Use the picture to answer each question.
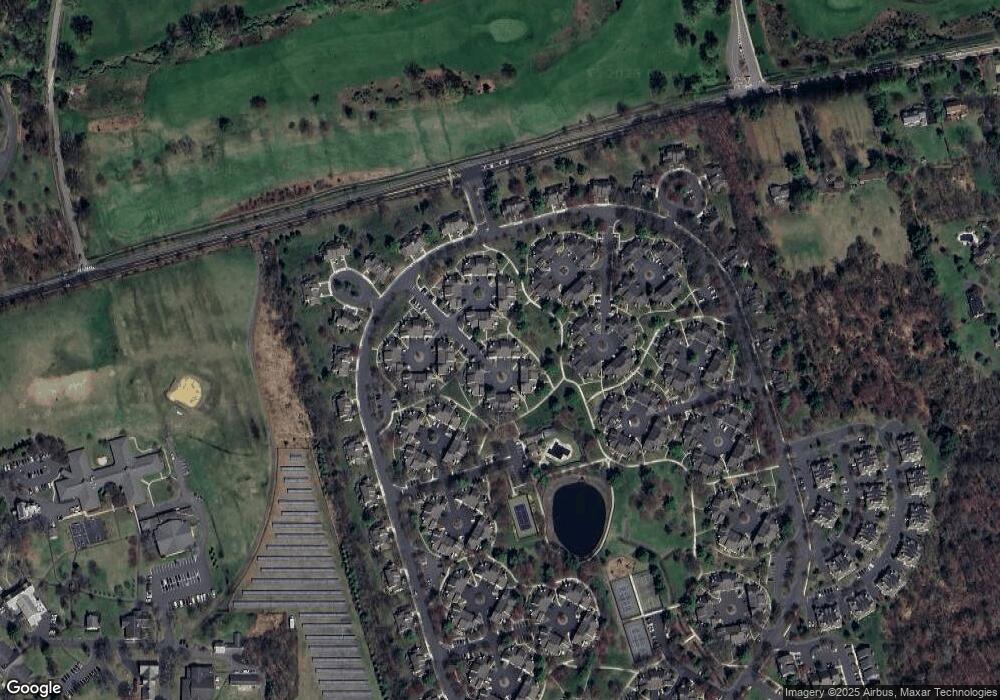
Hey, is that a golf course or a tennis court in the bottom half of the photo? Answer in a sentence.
It is a tennis court that can be seen in the bottom half of the photo.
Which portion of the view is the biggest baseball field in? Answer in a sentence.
The biggest baseball field is located in the left region of the scene.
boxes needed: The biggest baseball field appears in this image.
[154,352,238,424]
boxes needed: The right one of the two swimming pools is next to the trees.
[958,232,979,246]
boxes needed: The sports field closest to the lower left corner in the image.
[24,368,98,408]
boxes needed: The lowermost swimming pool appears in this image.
[544,437,574,463]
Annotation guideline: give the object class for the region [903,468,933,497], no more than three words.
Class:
building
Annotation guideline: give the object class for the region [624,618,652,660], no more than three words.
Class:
tennis court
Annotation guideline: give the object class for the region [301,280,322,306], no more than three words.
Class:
house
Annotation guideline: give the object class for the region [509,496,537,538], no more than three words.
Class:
tennis court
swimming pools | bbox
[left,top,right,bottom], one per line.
[544,437,574,463]
[958,232,979,246]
